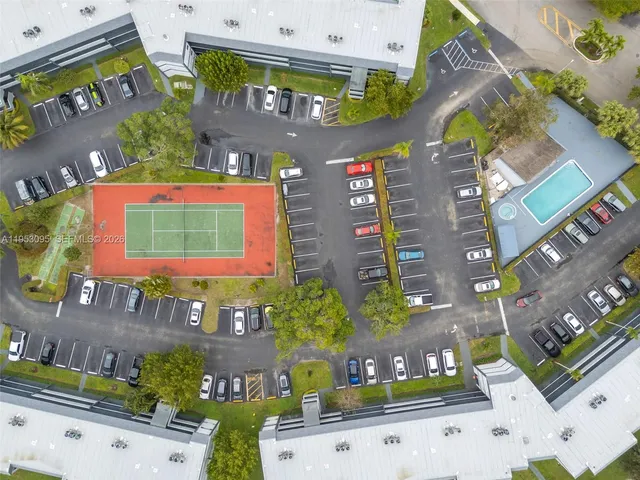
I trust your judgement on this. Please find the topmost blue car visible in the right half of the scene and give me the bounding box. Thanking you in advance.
[398,249,424,262]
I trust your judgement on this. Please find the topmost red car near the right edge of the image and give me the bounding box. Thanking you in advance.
[591,202,612,225]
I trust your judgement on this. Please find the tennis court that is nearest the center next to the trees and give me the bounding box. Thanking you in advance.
[93,183,277,277]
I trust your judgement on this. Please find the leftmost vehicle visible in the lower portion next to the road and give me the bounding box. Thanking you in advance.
[9,331,27,360]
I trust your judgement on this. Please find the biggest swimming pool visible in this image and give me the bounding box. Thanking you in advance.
[522,161,592,224]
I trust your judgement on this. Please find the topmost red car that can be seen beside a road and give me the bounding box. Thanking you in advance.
[347,162,372,174]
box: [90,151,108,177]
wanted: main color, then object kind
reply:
white car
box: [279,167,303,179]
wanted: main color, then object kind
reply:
white vehicle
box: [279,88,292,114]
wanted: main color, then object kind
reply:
gray vehicle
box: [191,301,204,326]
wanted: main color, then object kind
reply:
white vehicle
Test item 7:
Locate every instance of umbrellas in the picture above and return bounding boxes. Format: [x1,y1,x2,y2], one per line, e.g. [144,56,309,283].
[496,179,508,192]
[490,172,501,184]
